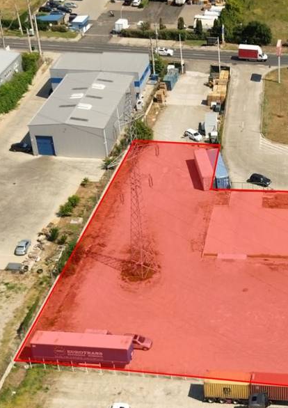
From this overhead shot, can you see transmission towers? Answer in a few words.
Yes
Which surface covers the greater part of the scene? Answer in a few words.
paved ground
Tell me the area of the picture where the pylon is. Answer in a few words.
center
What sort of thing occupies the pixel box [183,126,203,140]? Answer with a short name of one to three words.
car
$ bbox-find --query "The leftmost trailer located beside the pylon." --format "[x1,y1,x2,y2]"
[27,331,135,364]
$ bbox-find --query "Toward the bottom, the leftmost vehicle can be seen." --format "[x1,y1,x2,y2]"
[15,236,29,254]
